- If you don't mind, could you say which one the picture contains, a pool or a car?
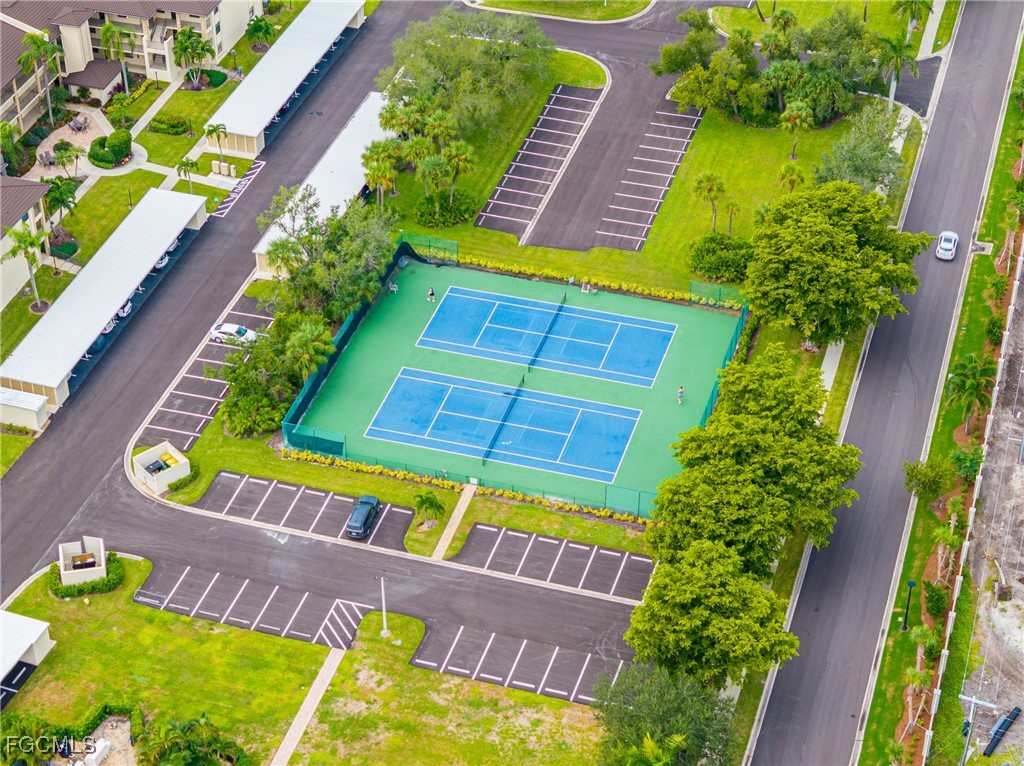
car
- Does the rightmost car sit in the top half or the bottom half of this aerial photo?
top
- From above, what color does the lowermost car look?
blue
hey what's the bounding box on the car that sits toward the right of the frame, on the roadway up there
[934,231,958,259]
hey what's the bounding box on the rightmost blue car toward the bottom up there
[345,495,383,536]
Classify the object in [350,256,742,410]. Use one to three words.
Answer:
tennis court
